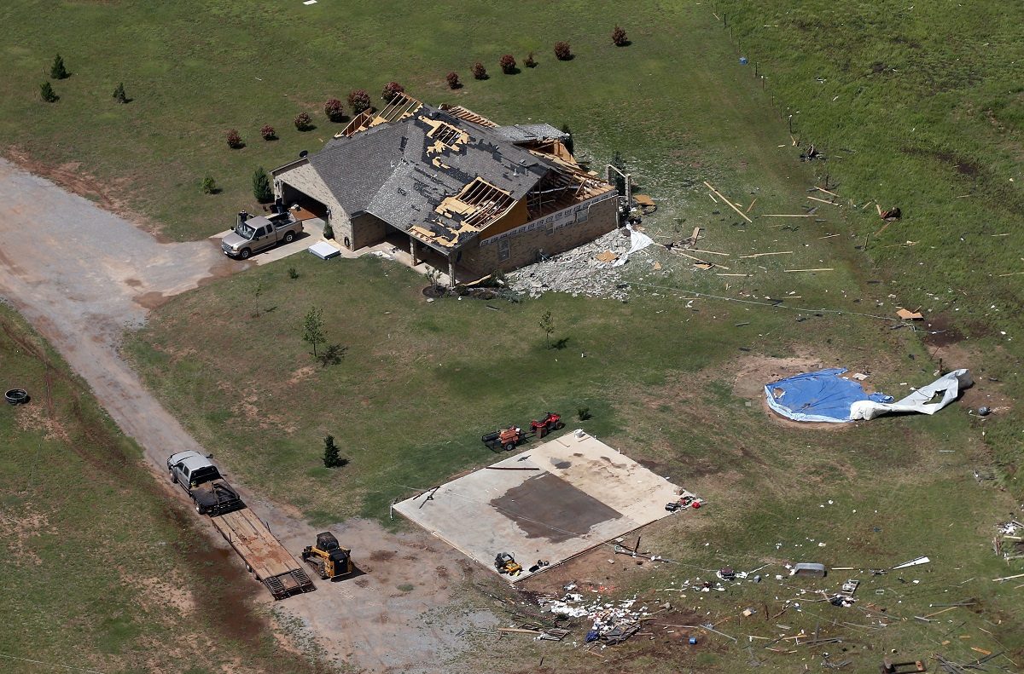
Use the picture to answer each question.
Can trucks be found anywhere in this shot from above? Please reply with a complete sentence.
Yes, looking at the shot, I can spot a truck.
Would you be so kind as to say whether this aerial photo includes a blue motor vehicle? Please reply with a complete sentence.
No, there isn't any blue motor vehicle down there.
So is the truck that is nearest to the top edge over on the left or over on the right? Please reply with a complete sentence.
The truck that is nearest to the top edge sits on the left side.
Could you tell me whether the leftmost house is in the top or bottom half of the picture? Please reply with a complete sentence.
It is in the top half that the leftmost house appears.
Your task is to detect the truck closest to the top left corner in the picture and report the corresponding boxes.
[220,216,301,258]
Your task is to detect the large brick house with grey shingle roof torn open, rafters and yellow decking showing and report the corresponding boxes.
[266,91,620,286]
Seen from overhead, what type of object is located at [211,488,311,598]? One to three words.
trailer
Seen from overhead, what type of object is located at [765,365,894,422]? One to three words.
swimming pool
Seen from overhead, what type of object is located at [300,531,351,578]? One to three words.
work vehicle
